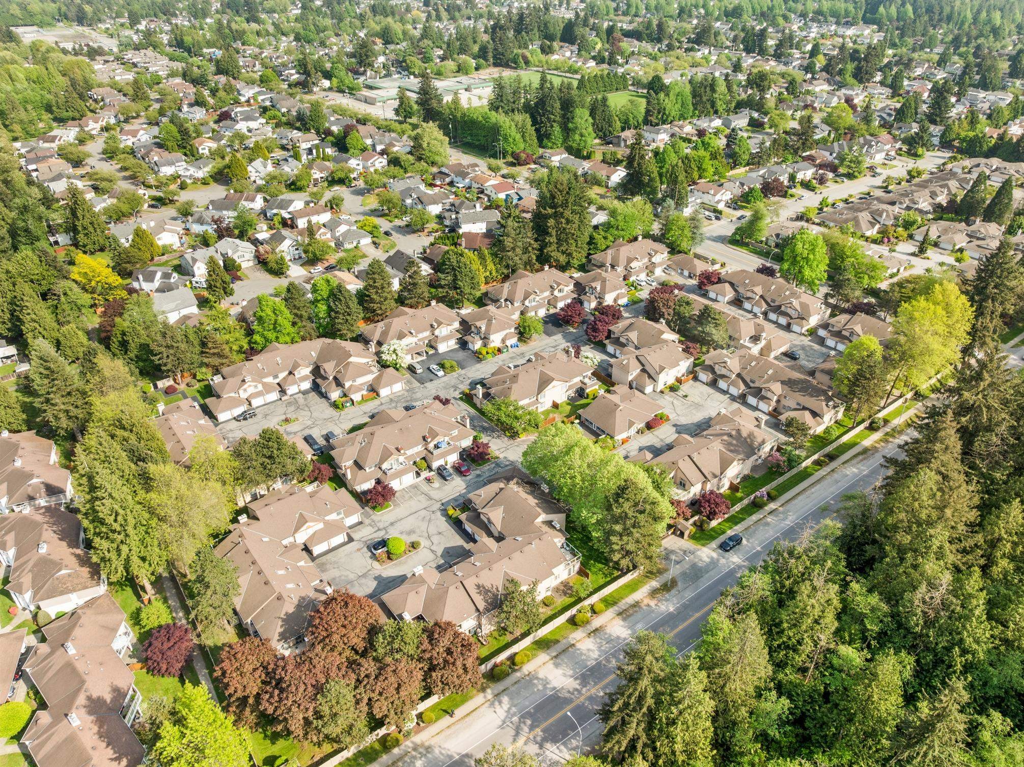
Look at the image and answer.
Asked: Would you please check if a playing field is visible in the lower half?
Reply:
No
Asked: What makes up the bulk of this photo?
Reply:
trees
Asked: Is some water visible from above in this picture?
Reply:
No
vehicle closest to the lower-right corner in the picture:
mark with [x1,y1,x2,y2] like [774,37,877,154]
[718,530,745,553]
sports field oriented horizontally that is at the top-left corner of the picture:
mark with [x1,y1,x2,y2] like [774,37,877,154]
[19,26,114,52]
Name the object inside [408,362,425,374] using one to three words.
vehicle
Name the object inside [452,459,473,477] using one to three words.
car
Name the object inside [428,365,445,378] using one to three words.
vehicle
